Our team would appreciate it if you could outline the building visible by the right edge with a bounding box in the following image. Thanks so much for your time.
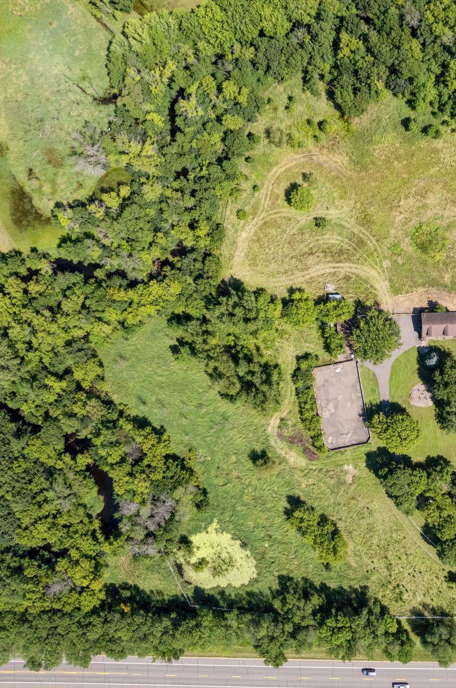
[421,312,456,340]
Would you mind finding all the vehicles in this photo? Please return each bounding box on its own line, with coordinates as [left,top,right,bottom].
[362,667,376,676]
[392,682,410,688]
